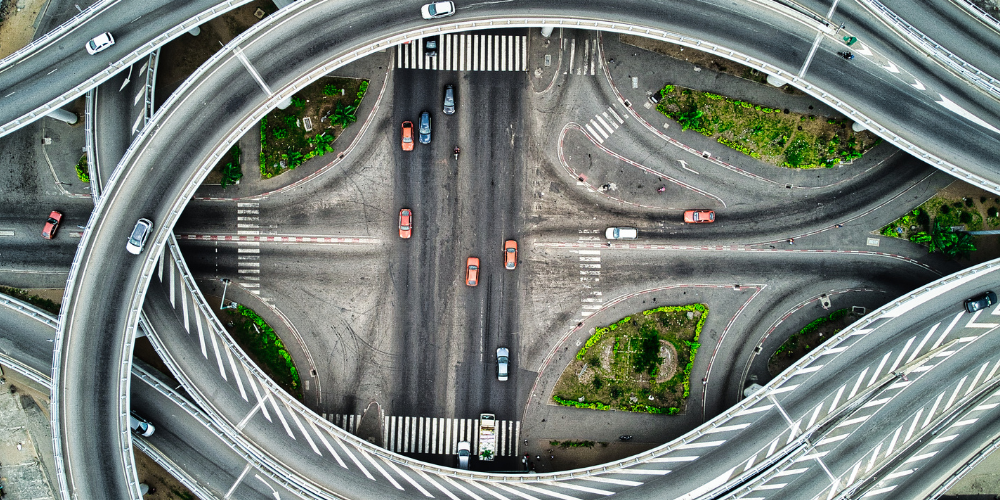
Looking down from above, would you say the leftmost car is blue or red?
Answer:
red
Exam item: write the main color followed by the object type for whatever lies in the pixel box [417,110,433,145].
blue car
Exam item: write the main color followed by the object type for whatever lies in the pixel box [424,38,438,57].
black car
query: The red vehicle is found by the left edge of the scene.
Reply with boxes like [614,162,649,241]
[43,210,63,240]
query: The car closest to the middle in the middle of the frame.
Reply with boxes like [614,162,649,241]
[504,240,519,270]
